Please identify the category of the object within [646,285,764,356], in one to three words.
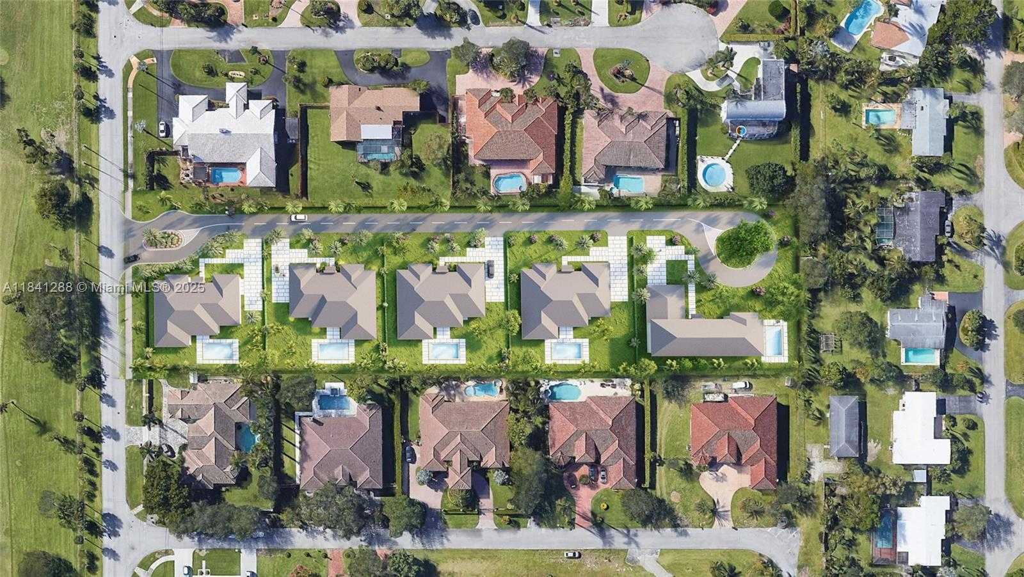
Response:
house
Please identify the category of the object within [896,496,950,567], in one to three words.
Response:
house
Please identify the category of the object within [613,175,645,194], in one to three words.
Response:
swimming pool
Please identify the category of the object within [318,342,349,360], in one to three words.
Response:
swimming pool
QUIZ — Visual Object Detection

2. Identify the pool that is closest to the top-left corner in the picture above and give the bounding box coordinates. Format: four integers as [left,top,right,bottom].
[211,166,242,185]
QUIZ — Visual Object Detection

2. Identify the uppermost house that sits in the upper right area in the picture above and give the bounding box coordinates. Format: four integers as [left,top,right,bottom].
[872,0,946,57]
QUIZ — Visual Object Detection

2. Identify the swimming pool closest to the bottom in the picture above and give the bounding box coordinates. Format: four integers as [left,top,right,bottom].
[876,511,894,549]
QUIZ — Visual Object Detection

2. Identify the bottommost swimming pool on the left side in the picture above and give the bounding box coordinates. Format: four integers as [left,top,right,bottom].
[234,421,258,453]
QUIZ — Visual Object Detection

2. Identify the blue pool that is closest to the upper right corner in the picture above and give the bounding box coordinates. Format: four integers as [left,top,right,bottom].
[844,0,883,35]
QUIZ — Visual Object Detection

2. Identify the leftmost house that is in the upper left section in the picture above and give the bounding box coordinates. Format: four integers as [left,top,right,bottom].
[173,82,276,187]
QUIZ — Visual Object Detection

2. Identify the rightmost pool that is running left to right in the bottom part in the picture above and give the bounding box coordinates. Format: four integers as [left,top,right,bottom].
[905,349,936,364]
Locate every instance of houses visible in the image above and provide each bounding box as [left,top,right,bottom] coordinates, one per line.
[646,285,764,356]
[330,86,420,141]
[521,262,610,339]
[300,404,382,488]
[583,110,666,184]
[893,191,945,261]
[872,0,946,57]
[888,297,945,349]
[168,383,250,486]
[288,263,377,339]
[901,88,949,156]
[153,272,242,348]
[721,60,787,122]
[892,392,951,464]
[173,82,276,187]
[896,496,950,567]
[691,397,778,490]
[420,393,510,491]
[549,396,636,490]
[397,263,485,339]
[830,396,858,457]
[466,89,558,174]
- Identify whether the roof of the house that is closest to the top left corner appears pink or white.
white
